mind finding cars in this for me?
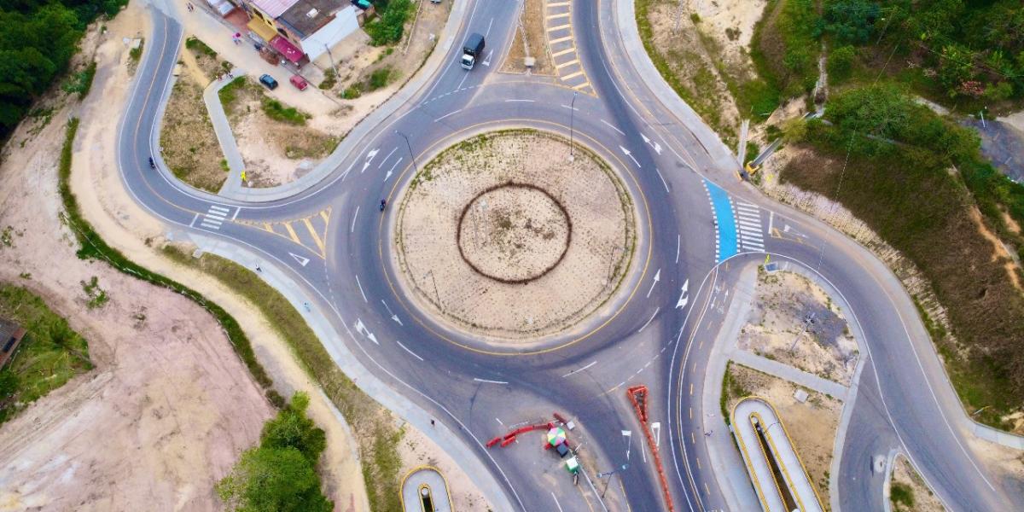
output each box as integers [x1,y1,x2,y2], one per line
[258,73,278,89]
[288,75,308,89]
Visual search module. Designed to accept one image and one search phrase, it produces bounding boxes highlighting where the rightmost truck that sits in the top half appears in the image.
[461,33,487,68]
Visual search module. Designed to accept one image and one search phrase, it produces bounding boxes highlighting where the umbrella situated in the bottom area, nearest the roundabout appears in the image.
[547,428,565,446]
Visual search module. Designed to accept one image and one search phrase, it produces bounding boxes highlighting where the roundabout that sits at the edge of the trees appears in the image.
[339,89,696,395]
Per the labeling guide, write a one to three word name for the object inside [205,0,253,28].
house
